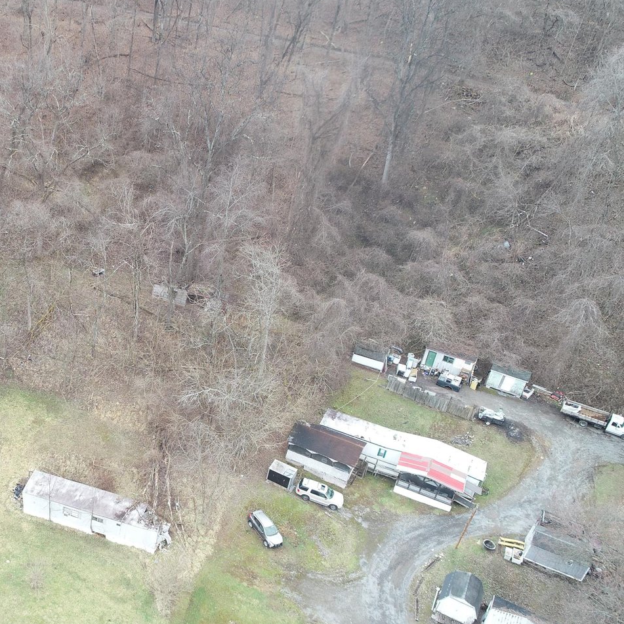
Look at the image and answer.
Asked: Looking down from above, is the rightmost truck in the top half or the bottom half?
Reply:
bottom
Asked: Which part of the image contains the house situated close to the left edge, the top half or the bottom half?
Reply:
bottom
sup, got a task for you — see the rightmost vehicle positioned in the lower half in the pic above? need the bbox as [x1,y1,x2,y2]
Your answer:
[563,400,624,441]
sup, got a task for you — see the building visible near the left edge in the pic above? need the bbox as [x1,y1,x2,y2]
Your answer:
[22,468,175,549]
